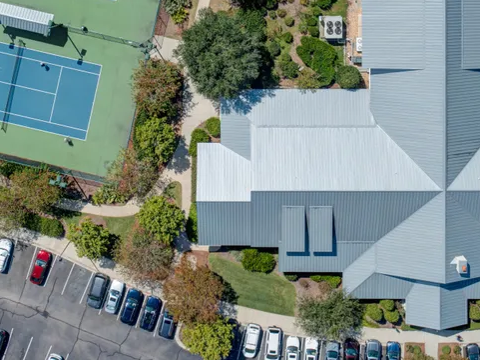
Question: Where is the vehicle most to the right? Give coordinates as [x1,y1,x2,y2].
[464,341,480,360]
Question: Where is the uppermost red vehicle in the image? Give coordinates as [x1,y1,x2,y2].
[30,248,52,286]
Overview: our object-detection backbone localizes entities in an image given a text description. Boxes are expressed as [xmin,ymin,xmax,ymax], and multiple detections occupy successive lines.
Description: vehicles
[304,338,319,360]
[49,351,62,360]
[286,337,300,360]
[0,236,13,273]
[157,310,175,340]
[121,288,142,326]
[265,329,282,360]
[344,338,359,360]
[464,341,480,360]
[243,323,261,360]
[87,271,109,310]
[386,340,402,360]
[0,327,6,357]
[366,340,381,360]
[139,295,160,333]
[104,278,125,314]
[30,248,52,286]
